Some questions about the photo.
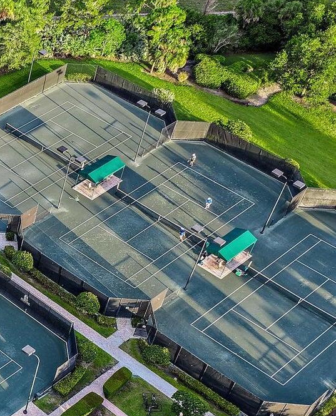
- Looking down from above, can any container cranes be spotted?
No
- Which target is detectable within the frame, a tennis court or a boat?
tennis court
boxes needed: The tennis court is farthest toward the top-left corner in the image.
[0,82,170,228]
